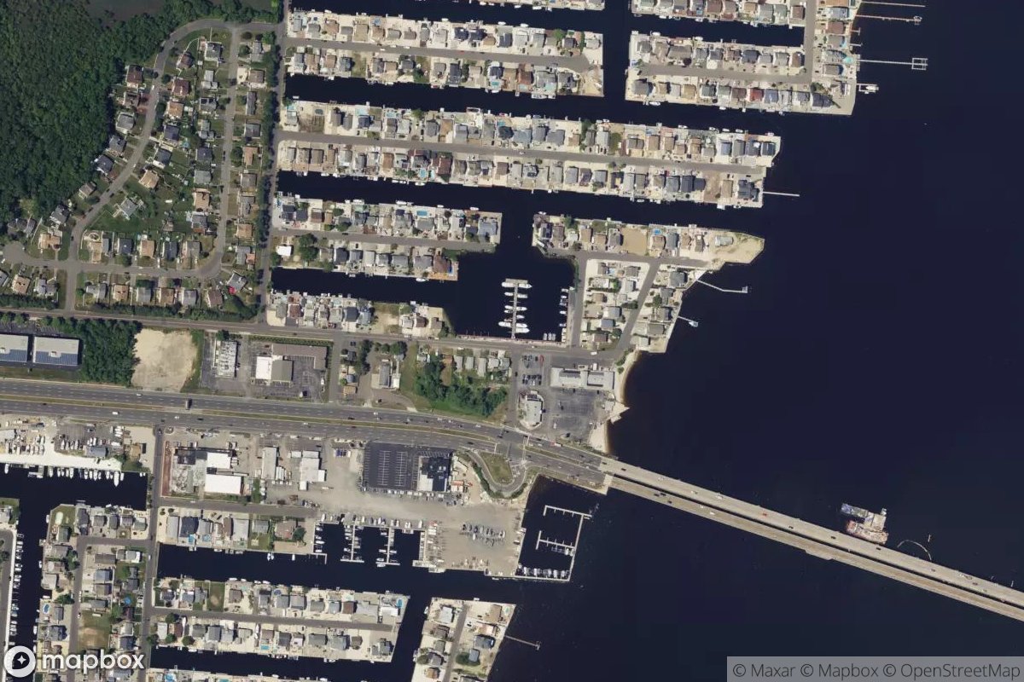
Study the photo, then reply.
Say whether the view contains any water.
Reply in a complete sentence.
Yes, water shows up in the scene.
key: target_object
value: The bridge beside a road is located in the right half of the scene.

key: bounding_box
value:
[598,458,1024,608]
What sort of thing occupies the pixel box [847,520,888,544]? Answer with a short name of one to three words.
ship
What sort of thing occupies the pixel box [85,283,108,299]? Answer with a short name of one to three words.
house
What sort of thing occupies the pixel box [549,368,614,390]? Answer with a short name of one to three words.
building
